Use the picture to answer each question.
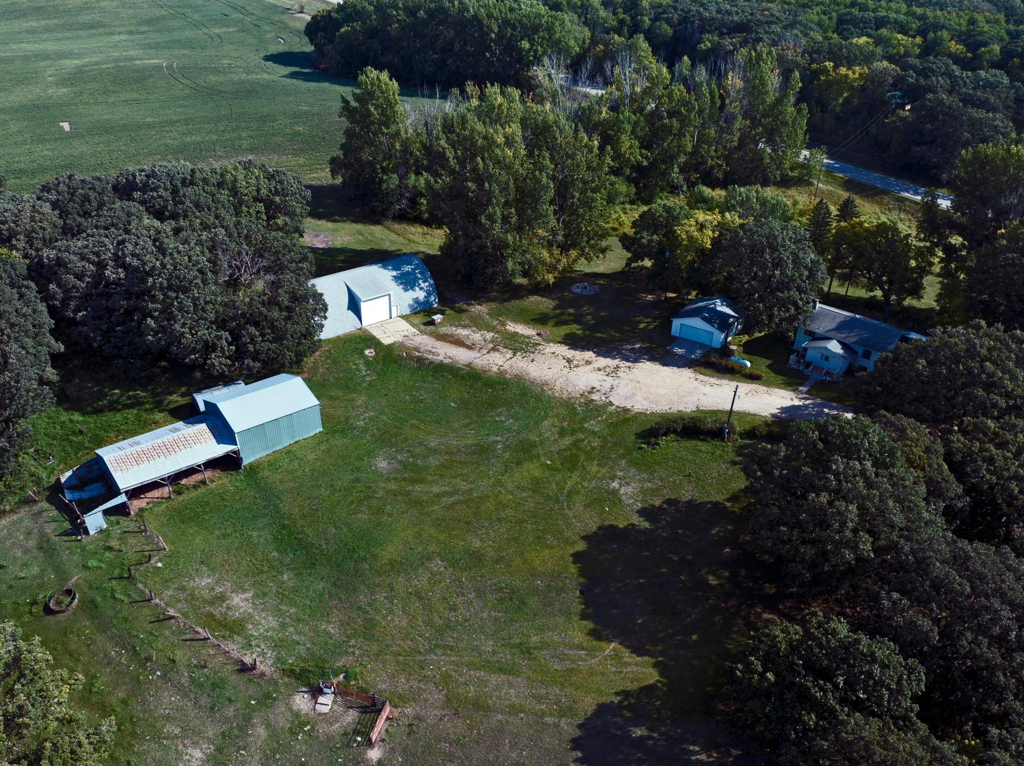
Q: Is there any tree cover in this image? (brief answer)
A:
Yes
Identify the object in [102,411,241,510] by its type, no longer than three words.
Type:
shed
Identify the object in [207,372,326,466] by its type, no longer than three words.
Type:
shed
